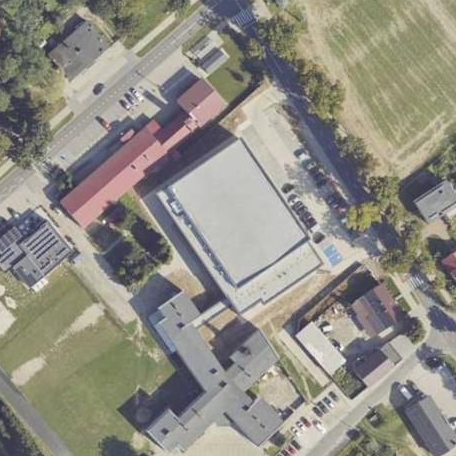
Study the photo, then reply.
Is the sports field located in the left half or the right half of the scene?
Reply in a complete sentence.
The sports field sits on the left side.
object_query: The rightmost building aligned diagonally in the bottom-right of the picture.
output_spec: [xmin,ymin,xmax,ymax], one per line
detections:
[405,395,456,456]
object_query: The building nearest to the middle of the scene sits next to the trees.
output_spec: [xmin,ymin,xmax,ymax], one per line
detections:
[157,140,322,311]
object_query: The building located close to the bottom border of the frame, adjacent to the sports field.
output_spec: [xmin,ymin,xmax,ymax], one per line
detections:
[147,291,284,452]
